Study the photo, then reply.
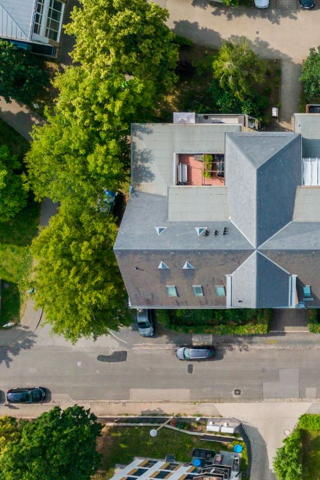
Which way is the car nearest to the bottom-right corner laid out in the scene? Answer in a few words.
from left to right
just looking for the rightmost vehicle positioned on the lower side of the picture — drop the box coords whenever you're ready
[177,343,215,363]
